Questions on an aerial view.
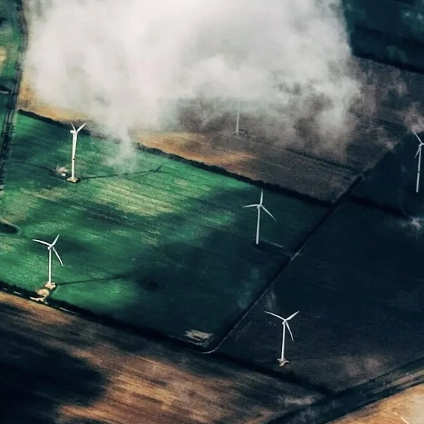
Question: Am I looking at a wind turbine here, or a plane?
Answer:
wind turbine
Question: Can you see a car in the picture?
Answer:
No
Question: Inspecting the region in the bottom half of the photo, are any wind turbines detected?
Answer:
Yes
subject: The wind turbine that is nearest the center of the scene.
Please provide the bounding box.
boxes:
[244,191,275,244]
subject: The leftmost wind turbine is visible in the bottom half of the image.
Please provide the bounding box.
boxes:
[34,233,61,283]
